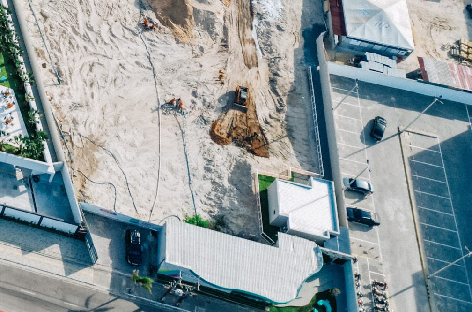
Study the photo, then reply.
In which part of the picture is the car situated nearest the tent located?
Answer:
right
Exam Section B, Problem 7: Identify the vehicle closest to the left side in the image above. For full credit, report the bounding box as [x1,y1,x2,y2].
[128,224,144,267]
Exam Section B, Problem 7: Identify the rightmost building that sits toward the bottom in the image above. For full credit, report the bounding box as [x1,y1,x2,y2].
[255,177,340,247]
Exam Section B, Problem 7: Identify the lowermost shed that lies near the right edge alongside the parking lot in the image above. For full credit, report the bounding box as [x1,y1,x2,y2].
[409,57,472,101]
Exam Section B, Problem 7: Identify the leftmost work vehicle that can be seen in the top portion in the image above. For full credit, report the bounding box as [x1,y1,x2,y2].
[233,84,252,113]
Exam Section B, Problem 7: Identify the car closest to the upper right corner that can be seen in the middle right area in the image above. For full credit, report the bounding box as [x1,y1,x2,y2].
[369,111,391,141]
